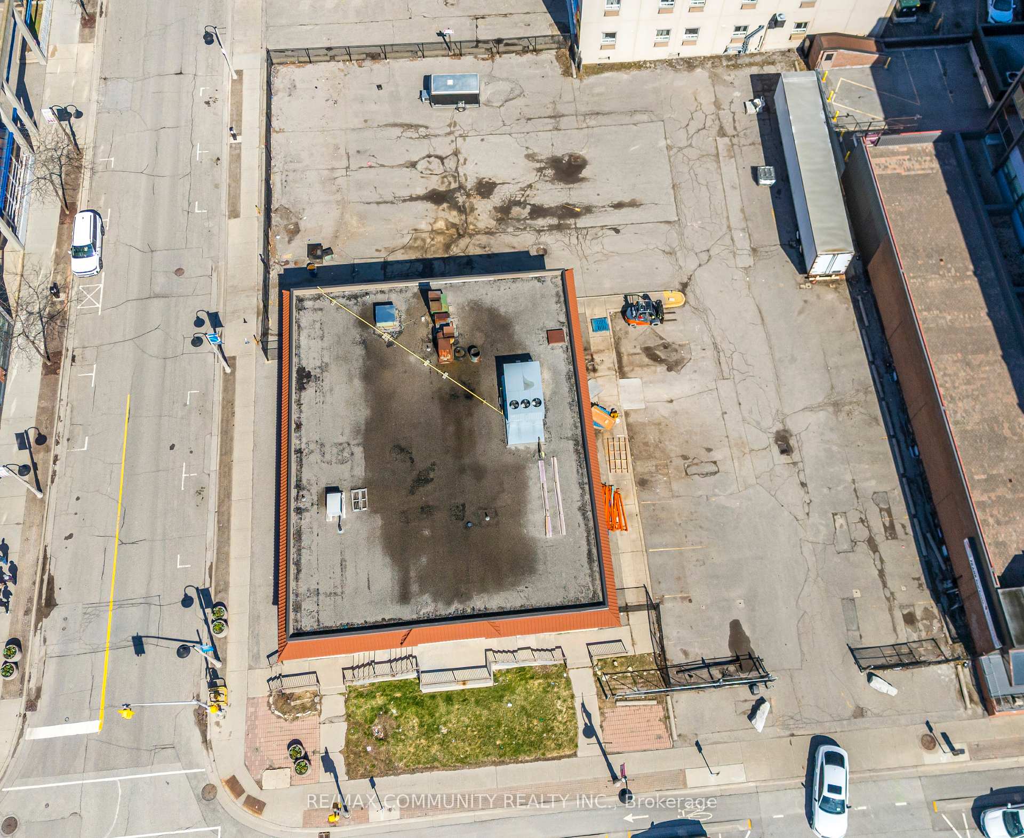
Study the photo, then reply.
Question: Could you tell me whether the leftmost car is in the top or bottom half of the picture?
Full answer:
The top half of the photo is where the leftmost car is.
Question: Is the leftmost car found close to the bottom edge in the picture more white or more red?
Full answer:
From above, the leftmost car found close to the bottom edge appears white.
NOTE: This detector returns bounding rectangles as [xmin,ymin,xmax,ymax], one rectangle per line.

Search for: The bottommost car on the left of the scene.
[63,207,103,276]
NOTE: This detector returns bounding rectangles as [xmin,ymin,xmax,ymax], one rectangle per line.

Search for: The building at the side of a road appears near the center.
[276,268,622,664]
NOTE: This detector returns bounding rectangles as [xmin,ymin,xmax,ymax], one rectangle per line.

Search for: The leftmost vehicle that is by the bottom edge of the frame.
[809,749,855,838]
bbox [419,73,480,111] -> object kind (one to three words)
trailer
